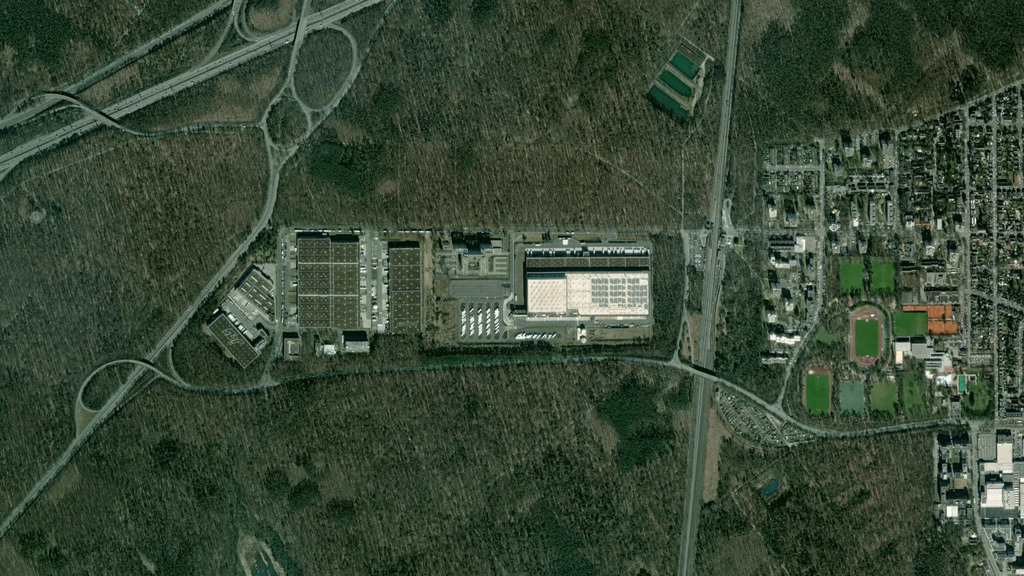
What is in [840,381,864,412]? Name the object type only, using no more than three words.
soccer field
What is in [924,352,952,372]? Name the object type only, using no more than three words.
building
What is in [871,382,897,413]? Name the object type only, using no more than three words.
soccer field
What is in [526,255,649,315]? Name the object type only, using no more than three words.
building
